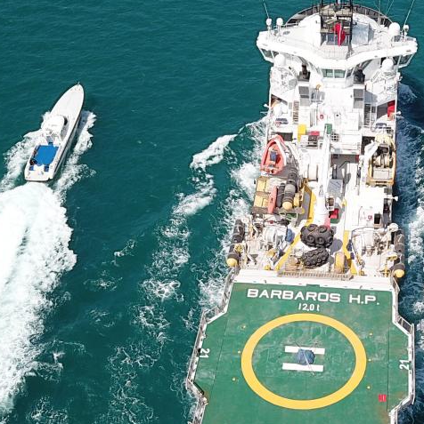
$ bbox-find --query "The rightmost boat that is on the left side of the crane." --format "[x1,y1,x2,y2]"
[258,128,287,176]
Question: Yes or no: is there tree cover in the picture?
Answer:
No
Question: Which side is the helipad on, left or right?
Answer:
right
